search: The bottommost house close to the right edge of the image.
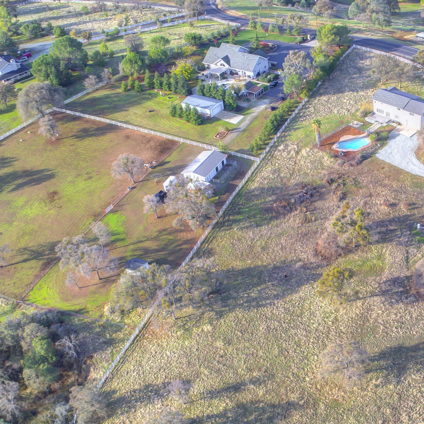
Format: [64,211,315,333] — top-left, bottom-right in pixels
[372,84,424,128]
